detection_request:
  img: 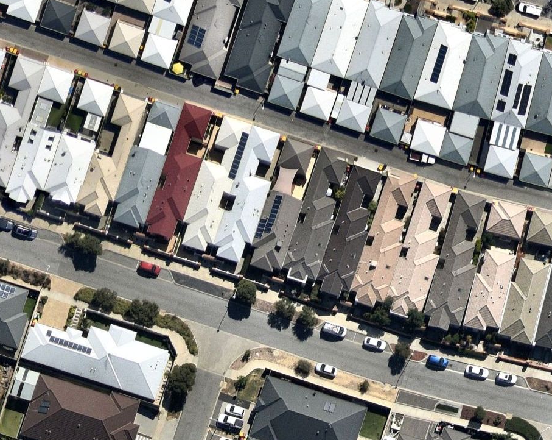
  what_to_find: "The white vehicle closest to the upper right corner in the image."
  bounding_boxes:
[517,1,542,16]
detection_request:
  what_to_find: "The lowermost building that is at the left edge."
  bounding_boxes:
[9,368,140,440]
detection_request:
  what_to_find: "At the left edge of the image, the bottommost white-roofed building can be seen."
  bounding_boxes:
[25,323,169,400]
